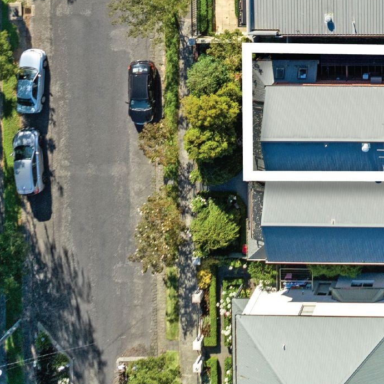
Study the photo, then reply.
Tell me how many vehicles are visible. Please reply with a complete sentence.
The number of vehicles here is 3.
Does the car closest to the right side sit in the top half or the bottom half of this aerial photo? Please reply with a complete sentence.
The car closest to the right side is in the top half of the image.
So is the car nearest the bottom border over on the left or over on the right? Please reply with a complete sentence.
You can find the car nearest the bottom border on the left side of the picture.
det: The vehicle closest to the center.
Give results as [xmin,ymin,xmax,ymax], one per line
[126,60,160,125]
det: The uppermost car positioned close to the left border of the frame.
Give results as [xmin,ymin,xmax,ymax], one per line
[15,50,50,116]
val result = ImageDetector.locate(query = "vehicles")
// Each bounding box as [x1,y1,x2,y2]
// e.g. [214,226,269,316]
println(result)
[14,131,47,199]
[15,50,50,116]
[126,60,160,125]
